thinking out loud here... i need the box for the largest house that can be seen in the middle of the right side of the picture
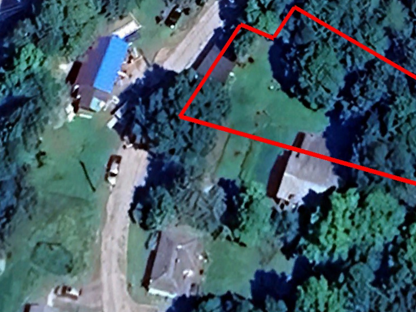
[278,130,354,214]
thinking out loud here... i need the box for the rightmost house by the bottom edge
[144,229,205,301]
